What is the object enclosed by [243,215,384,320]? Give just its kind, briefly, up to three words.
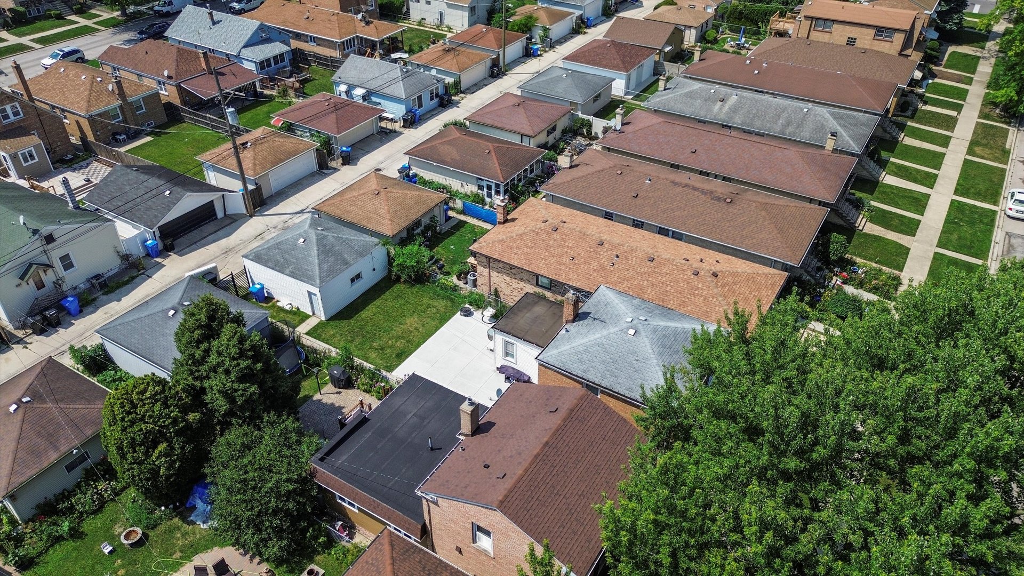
building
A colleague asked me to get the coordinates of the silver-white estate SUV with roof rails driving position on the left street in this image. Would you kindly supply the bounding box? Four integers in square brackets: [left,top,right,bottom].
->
[42,45,89,70]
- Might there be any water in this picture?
No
